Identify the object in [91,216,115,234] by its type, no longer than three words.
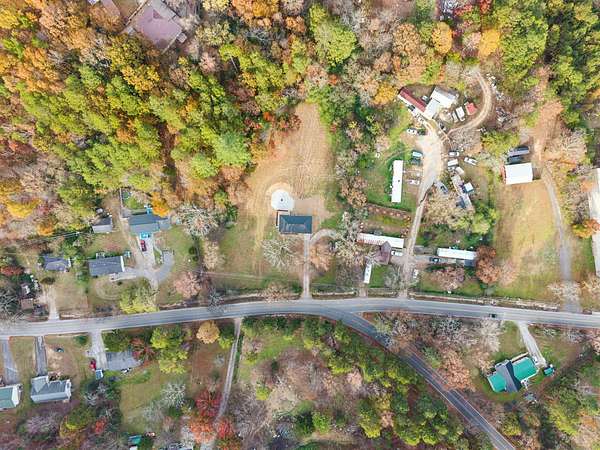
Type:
shed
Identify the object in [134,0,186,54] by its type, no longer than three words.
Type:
house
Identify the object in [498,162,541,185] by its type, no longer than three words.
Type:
barn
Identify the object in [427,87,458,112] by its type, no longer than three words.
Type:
building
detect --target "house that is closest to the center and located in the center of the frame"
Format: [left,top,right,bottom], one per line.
[279,214,312,235]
